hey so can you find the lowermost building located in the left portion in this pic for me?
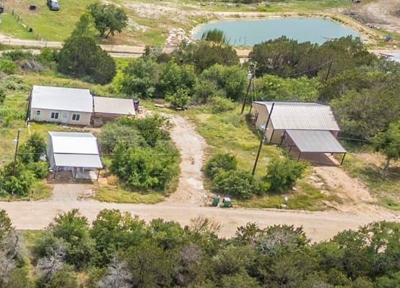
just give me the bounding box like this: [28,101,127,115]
[45,133,104,182]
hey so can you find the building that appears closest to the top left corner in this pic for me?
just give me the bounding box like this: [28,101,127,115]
[26,82,92,126]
